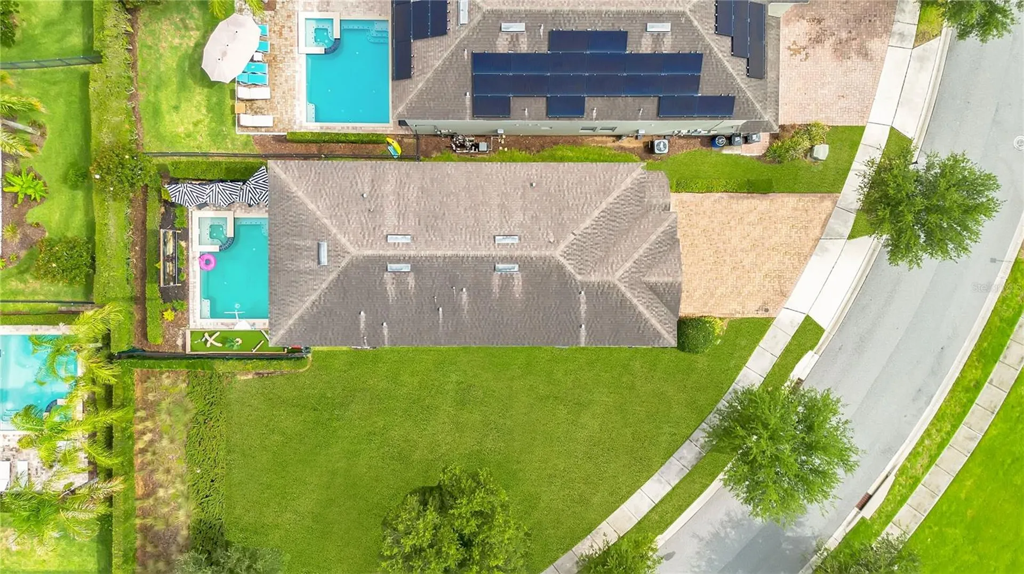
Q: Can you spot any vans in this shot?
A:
No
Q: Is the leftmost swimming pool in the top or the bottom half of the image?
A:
bottom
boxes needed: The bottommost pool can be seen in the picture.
[0,328,87,433]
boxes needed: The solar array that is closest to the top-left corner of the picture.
[394,0,448,79]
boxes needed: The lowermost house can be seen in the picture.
[267,160,683,348]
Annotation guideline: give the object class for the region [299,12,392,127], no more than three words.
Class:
swimming pool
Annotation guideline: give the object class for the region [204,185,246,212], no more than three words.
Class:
umbrella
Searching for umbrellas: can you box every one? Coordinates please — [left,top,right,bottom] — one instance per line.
[242,175,268,215]
[167,185,209,211]
[204,185,246,212]
[201,13,262,83]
